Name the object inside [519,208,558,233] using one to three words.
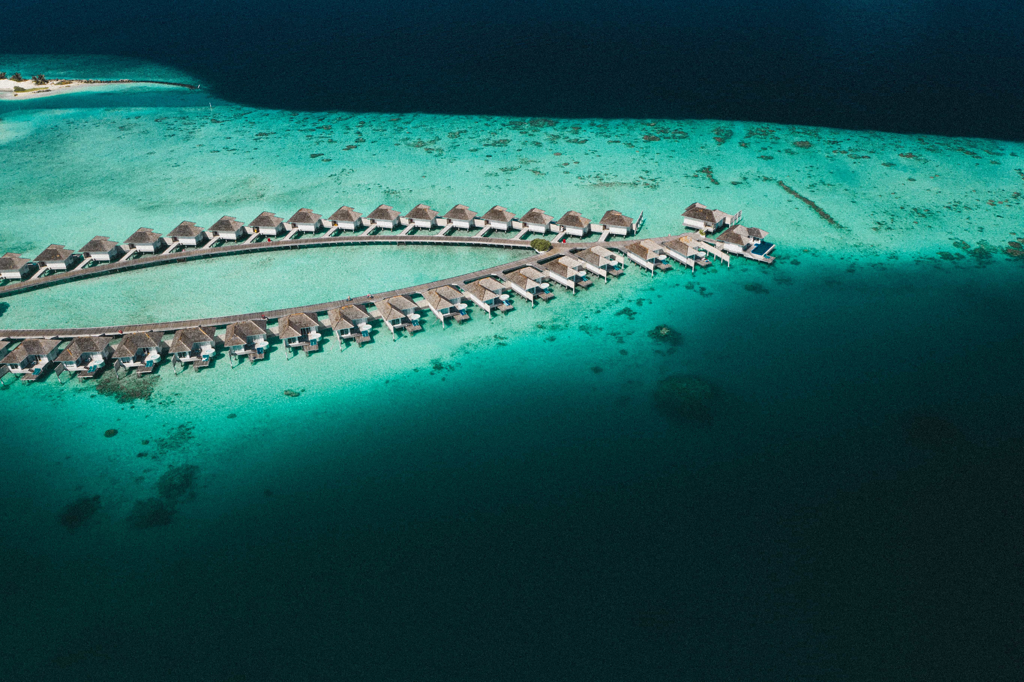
house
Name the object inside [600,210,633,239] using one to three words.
house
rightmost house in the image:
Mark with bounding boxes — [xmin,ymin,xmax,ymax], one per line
[716,223,775,271]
